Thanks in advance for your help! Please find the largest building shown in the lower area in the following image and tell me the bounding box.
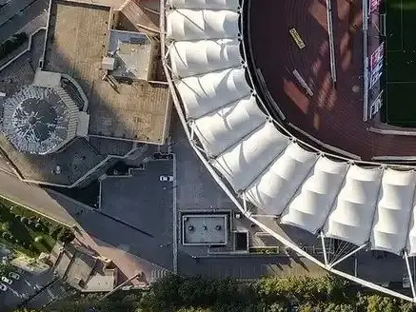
[52,227,124,291]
